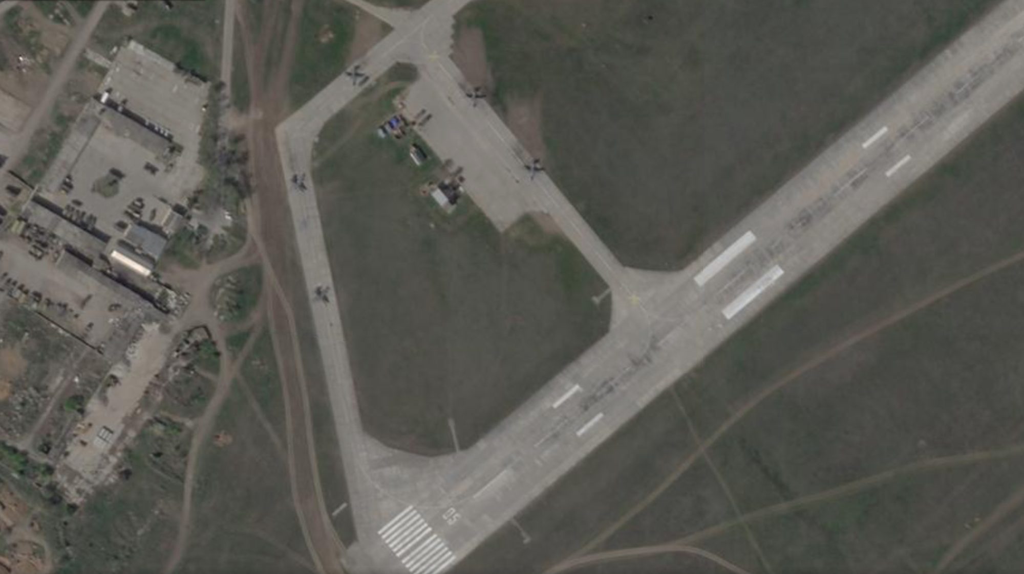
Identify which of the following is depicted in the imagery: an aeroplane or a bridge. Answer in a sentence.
Visible in the photo is an aeroplane.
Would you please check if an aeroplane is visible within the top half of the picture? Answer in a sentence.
Yes, there is an aeroplane within the top half of the picture.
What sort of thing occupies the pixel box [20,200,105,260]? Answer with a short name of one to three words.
building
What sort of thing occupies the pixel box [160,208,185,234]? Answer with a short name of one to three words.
house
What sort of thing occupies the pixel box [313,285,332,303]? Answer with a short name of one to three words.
airplane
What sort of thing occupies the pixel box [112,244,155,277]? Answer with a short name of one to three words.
shed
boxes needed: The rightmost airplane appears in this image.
[524,159,545,180]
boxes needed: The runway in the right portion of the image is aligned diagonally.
[341,0,1024,574]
